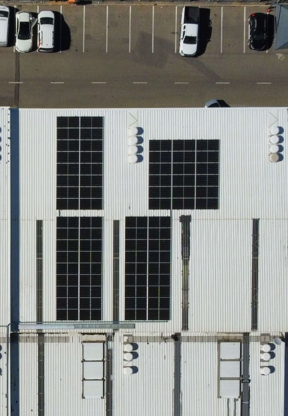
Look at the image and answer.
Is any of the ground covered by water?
No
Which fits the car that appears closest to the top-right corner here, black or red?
black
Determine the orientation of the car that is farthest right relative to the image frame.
from top to bottom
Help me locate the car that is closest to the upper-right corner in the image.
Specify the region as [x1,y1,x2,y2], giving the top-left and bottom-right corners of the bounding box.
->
[248,10,270,56]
